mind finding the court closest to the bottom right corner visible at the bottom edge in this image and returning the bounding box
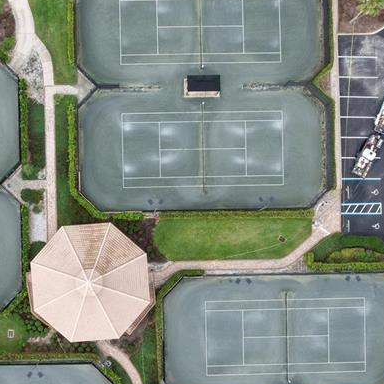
[163,273,384,384]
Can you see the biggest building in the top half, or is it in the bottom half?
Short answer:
bottom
